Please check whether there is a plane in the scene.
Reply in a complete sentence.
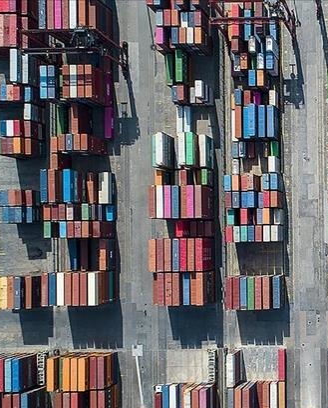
No, no plane is visible in the scene.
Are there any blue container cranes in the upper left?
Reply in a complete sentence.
No, there's no blue container crane to be seen in the upper left.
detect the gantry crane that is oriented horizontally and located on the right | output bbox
[208,0,299,45]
